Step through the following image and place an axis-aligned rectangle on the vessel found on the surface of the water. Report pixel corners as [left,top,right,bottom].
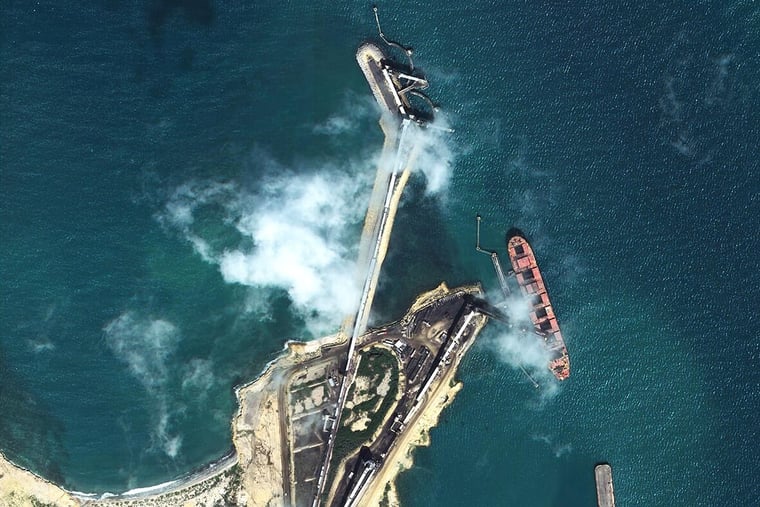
[510,236,571,382]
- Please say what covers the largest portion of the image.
water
